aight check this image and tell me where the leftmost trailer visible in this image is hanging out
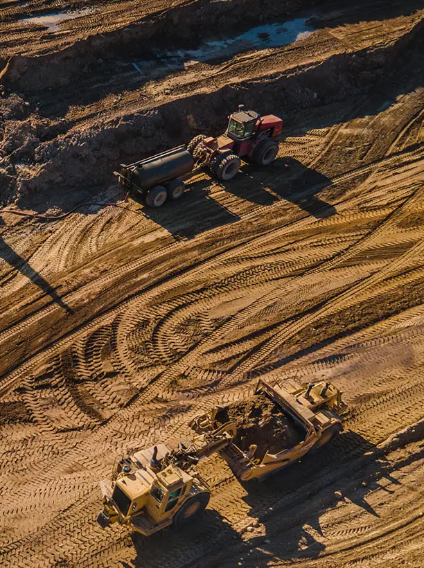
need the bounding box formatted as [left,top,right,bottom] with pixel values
[110,144,198,203]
